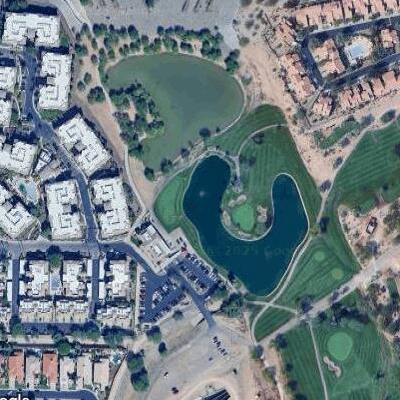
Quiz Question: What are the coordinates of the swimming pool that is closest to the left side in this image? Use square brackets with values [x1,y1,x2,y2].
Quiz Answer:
[20,181,35,202]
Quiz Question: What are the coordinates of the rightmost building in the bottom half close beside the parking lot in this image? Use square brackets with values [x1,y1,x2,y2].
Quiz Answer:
[137,230,178,260]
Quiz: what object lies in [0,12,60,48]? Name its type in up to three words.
building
